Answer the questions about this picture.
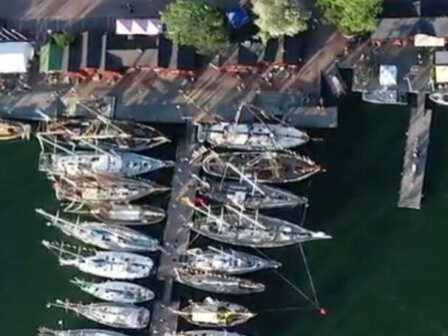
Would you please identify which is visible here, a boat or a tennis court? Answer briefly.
boat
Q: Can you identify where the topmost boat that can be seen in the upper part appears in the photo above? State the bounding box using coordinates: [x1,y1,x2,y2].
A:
[329,69,344,96]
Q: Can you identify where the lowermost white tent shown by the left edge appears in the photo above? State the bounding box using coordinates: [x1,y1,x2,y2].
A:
[0,43,39,78]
